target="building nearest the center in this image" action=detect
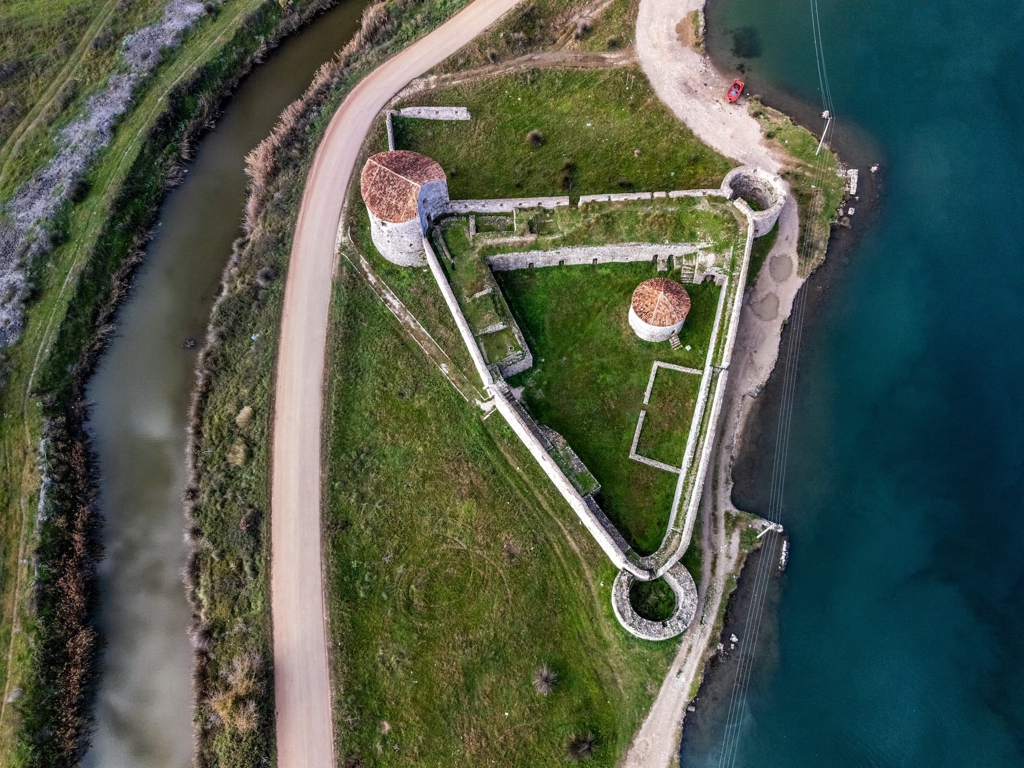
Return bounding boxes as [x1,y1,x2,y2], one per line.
[628,276,692,342]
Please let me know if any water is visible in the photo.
Yes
